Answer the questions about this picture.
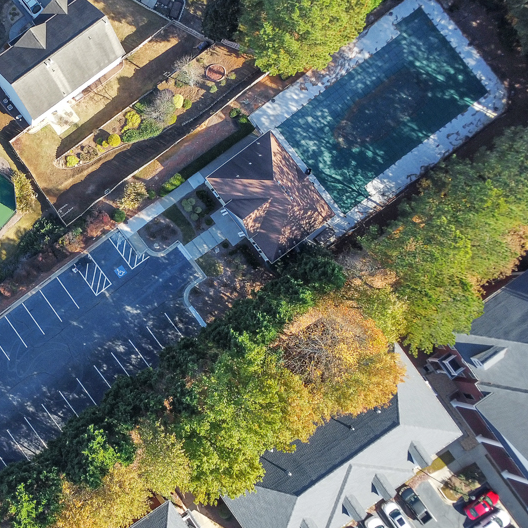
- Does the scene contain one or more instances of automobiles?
Yes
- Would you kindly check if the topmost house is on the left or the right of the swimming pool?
to its left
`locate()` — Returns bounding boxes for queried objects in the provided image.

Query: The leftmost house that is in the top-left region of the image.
[0,0,123,126]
